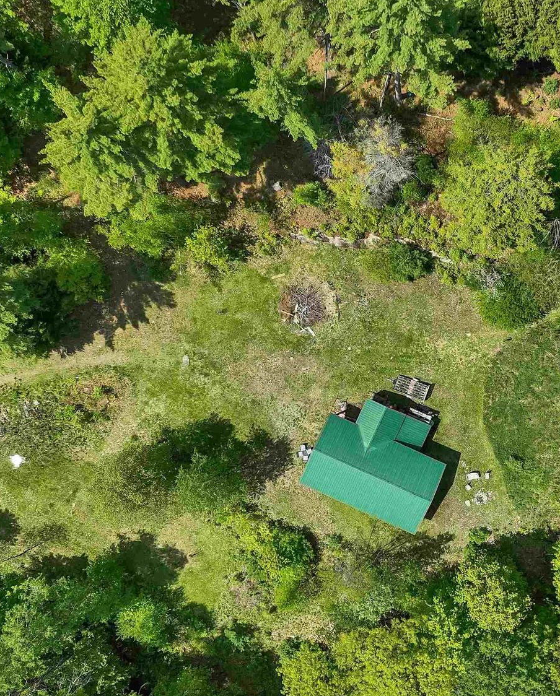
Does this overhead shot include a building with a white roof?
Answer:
No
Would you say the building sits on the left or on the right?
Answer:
right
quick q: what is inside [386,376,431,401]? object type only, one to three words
trailer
